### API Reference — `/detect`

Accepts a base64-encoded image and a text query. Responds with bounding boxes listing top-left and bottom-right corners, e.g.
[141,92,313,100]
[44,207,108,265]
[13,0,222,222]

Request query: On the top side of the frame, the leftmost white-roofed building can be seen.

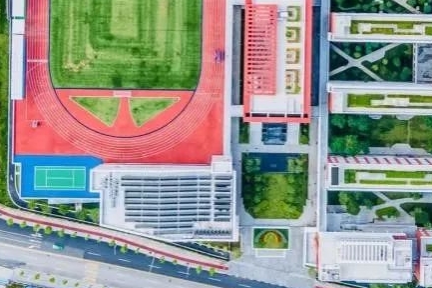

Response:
[243,0,313,122]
